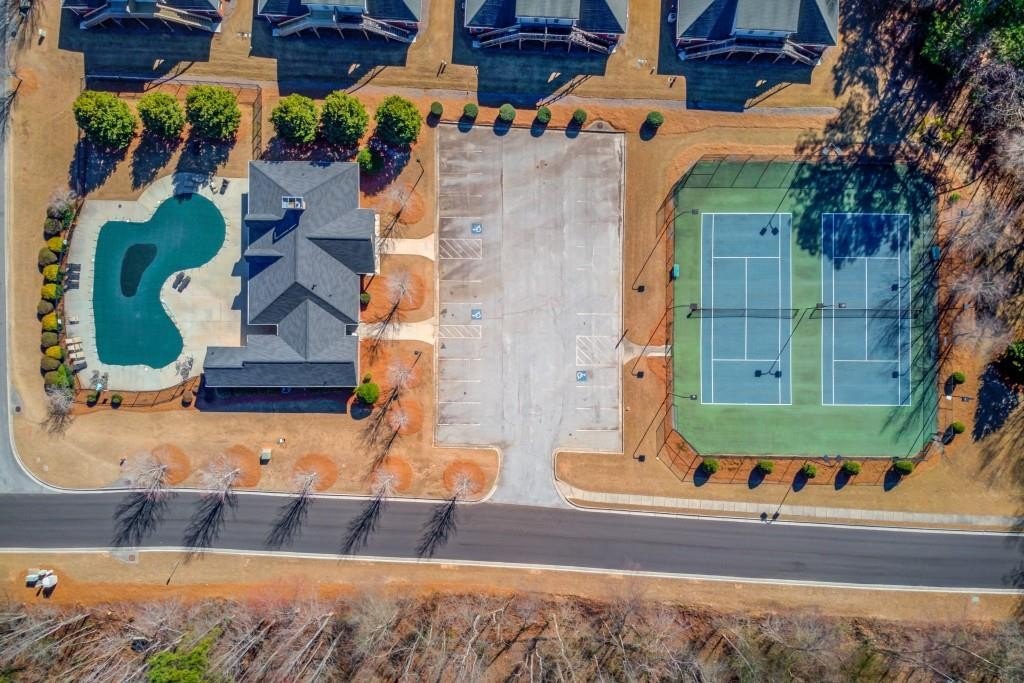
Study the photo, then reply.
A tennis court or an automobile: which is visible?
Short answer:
tennis court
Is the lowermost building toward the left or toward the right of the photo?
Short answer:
left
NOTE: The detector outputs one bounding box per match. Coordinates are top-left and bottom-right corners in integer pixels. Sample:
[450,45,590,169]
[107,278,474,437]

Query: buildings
[257,0,420,41]
[464,0,628,52]
[199,160,381,388]
[676,0,841,64]
[61,0,229,32]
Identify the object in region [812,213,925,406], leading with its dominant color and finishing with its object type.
blue tennis court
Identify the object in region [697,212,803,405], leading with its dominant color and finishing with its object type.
blue tennis court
